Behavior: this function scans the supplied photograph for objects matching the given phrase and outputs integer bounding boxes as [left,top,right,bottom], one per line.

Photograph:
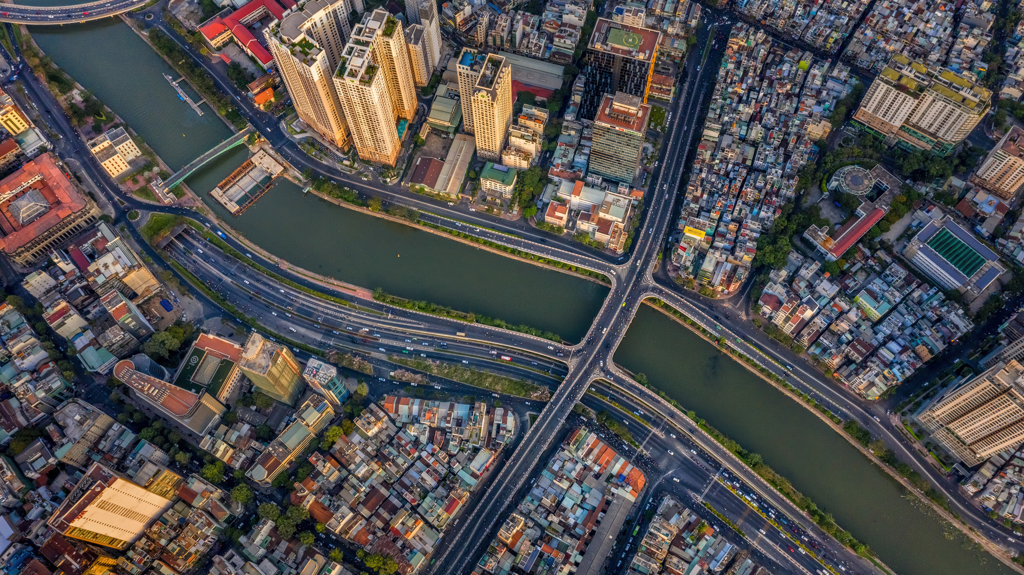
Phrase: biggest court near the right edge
[928,228,986,277]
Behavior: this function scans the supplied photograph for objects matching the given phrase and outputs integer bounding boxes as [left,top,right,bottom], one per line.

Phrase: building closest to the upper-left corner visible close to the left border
[0,88,31,139]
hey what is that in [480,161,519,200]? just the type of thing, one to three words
house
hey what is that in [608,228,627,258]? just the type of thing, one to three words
house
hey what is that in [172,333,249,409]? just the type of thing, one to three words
building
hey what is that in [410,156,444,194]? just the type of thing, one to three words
building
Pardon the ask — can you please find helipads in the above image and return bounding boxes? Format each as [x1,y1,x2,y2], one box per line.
[606,27,643,50]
